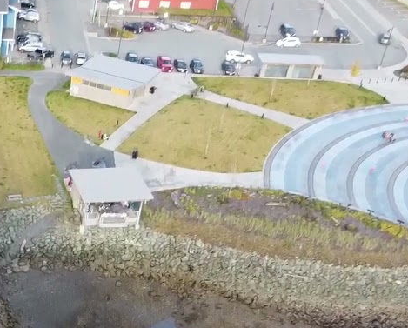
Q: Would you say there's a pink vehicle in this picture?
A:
Yes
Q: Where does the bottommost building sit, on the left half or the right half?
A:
left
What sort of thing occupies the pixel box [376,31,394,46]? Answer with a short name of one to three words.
car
